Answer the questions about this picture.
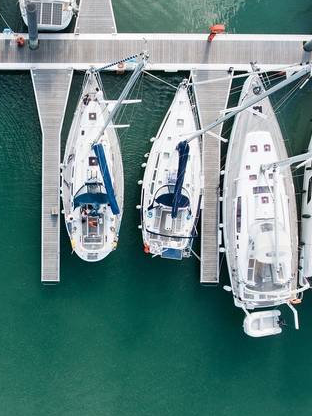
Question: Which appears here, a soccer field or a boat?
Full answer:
The image shows a boat.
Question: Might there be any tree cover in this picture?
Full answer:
No, the picture contains no tree cover.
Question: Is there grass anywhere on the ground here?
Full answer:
No, no grass is visible.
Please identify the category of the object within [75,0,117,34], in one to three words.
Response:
pier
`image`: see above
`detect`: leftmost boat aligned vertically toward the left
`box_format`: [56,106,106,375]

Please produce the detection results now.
[63,29,154,263]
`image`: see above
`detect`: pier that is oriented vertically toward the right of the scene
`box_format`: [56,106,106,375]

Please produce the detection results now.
[189,70,233,285]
